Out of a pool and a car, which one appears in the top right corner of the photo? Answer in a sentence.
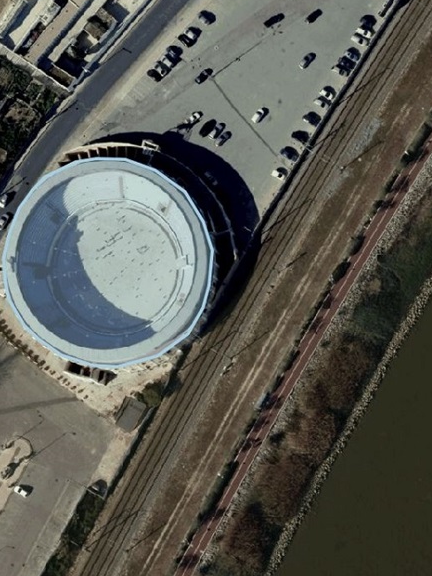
You can see a car in the top right corner of the photo.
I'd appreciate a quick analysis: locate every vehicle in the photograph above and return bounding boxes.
[264,13,284,28]
[0,212,10,231]
[311,95,330,109]
[350,32,370,47]
[305,8,323,24]
[250,106,268,124]
[209,123,224,140]
[280,146,299,161]
[331,63,351,77]
[356,15,376,30]
[270,167,288,181]
[145,66,162,80]
[318,87,335,101]
[181,27,198,42]
[152,61,170,77]
[199,119,216,138]
[177,34,193,48]
[164,45,183,60]
[195,68,213,84]
[0,191,9,209]
[299,52,316,70]
[215,131,232,148]
[197,11,214,25]
[336,54,355,70]
[12,483,31,499]
[353,25,373,40]
[344,48,362,63]
[301,111,320,127]
[159,55,177,70]
[291,129,310,144]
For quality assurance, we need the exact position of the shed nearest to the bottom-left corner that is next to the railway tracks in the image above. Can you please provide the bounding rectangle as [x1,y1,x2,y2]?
[113,395,148,433]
